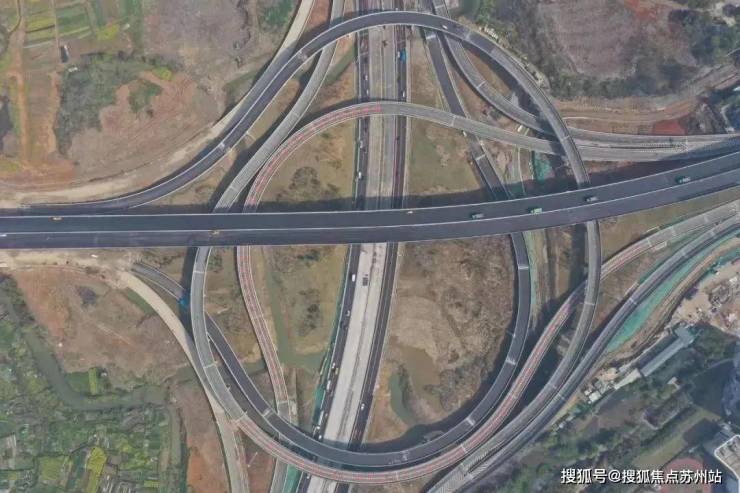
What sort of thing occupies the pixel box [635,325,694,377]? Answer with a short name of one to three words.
shed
